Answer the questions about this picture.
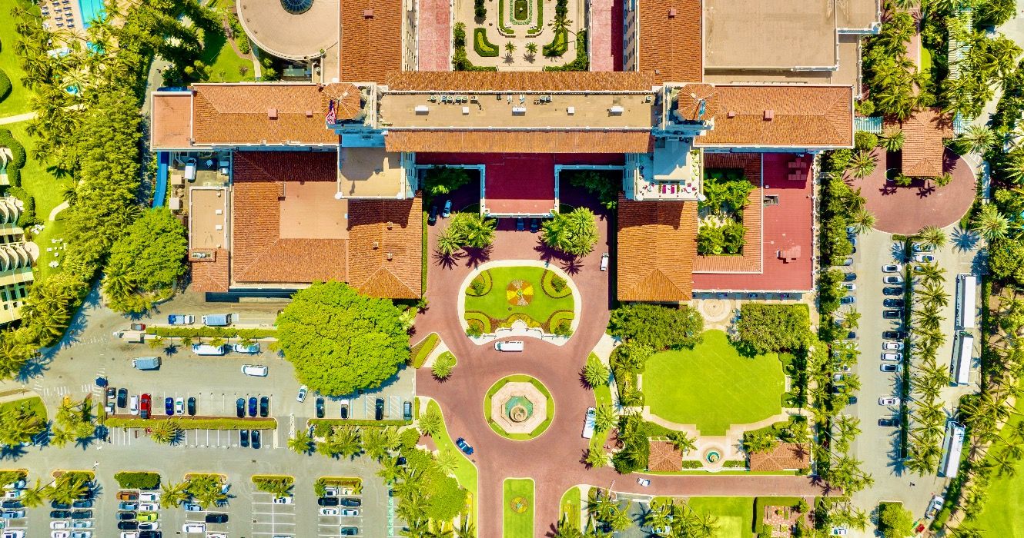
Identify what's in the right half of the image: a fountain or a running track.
fountain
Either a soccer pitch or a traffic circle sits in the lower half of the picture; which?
traffic circle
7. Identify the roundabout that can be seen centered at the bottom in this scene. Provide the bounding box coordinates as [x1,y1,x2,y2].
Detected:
[484,373,555,442]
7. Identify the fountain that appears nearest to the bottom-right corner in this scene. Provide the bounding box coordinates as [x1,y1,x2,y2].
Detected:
[701,443,725,467]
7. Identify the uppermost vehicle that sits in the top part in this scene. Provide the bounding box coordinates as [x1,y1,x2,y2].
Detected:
[185,156,201,184]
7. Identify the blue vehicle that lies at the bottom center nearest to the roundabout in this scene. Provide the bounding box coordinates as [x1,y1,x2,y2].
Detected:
[455,436,475,454]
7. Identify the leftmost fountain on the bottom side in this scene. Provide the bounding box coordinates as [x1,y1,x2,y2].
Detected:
[491,380,547,436]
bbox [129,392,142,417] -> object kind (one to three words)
vehicle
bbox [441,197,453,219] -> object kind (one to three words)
vehicle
